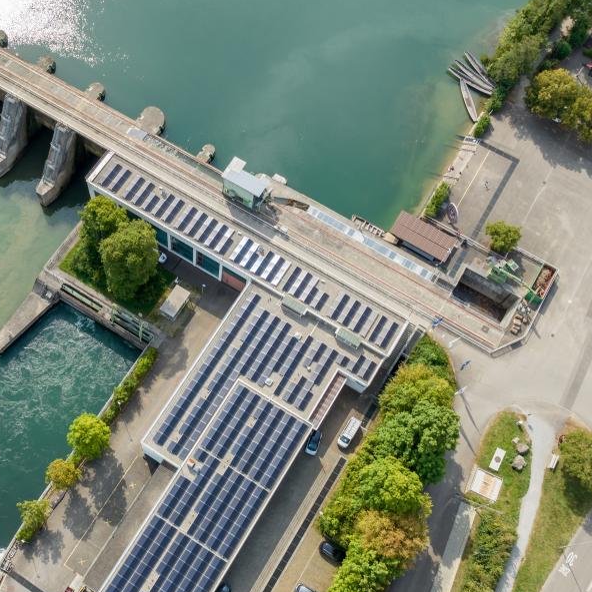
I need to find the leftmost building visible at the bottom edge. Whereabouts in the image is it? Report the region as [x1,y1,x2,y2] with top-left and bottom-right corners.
[101,383,316,592]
